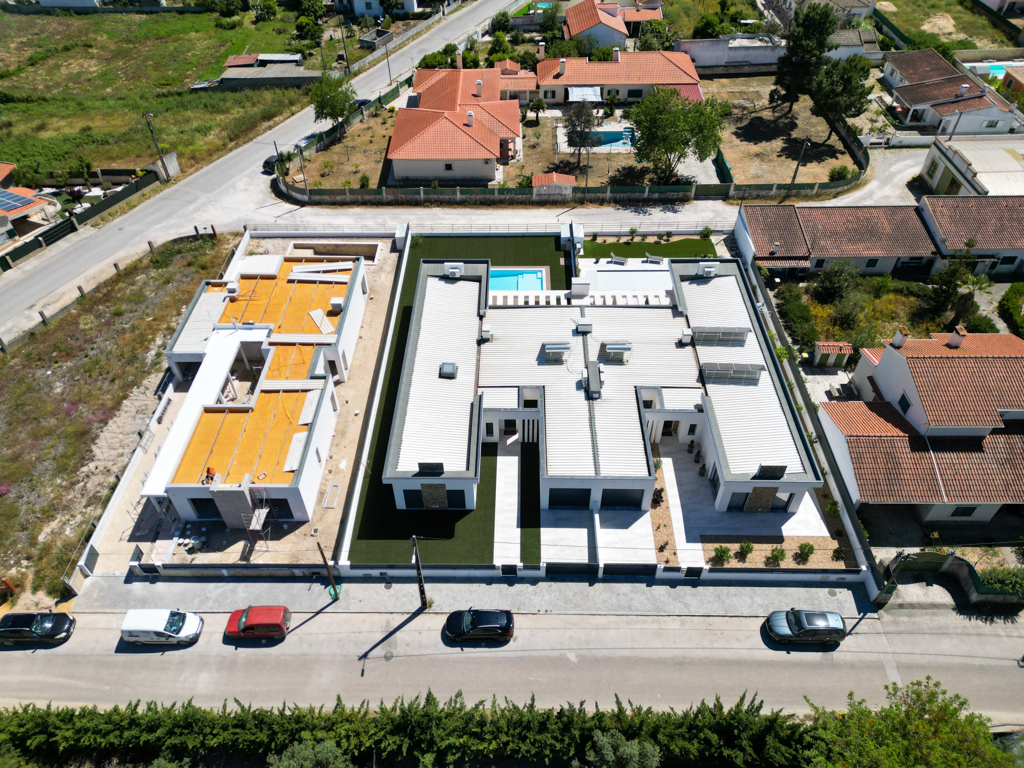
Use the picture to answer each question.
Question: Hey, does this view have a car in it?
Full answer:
Yes, looking at the shot, I can spot a car.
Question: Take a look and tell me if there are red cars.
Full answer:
Yes, a red car appears in the view.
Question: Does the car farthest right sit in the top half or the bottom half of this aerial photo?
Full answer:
The car farthest right sits in the bottom half of the picture.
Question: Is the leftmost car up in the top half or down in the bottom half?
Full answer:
It is in the bottom half that the leftmost car appears.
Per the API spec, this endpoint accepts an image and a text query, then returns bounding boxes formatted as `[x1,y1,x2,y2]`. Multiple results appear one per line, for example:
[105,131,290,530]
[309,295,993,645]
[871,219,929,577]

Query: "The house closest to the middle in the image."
[382,258,601,510]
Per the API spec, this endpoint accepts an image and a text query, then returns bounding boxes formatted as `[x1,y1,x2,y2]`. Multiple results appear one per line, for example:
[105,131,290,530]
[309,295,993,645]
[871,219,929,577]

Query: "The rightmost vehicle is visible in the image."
[763,613,855,655]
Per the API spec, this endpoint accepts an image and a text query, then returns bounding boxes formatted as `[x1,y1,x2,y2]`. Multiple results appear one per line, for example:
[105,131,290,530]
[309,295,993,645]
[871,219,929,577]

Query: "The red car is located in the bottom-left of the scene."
[223,602,295,641]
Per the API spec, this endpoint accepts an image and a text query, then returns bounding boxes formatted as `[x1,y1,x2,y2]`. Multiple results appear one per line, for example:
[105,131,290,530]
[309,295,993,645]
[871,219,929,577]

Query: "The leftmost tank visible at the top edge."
[357,26,394,49]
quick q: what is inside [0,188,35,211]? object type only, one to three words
solar array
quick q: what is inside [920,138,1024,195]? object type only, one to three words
barn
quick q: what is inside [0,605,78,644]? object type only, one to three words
car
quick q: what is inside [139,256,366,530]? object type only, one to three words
house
